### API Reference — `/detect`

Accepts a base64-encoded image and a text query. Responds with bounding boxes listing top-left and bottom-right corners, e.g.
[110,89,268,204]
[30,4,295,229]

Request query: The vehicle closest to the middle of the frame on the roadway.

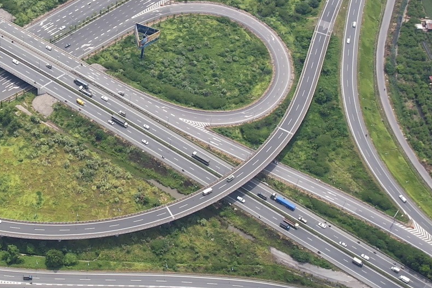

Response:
[189,150,212,166]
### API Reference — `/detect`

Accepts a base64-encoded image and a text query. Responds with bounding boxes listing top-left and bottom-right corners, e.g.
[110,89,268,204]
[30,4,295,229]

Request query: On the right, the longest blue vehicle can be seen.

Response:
[272,194,297,211]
